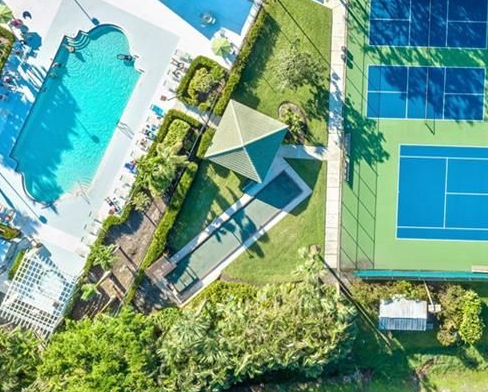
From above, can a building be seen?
Yes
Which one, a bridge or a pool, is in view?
pool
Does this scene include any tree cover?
Yes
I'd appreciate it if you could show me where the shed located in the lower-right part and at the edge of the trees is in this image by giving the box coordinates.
[379,295,427,330]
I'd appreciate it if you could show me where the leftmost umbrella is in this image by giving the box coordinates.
[0,2,16,25]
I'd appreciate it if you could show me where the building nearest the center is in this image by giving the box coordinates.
[204,98,289,183]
